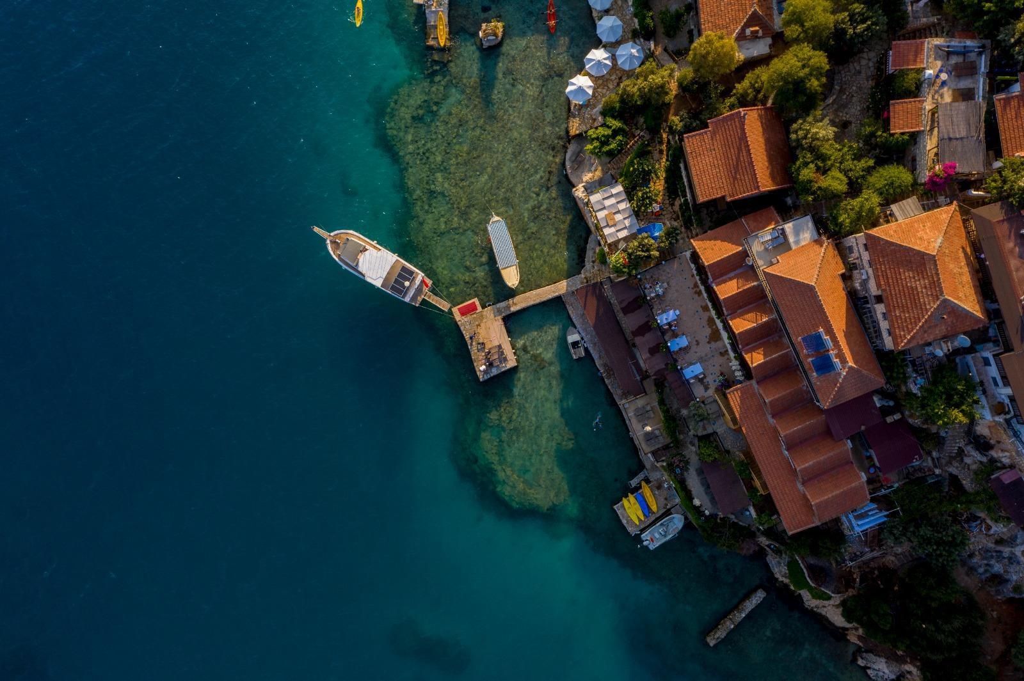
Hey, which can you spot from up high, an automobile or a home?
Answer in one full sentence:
The image shows a home.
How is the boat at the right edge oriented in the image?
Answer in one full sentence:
I'd say the boat at the right edge is aligned from side to side in the picture.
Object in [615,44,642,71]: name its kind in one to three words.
umbrella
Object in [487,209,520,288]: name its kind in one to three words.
boat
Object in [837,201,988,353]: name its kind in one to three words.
house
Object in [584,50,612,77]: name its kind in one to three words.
umbrella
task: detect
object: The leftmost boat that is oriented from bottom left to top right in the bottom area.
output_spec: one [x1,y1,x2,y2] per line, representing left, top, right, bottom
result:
[641,514,687,553]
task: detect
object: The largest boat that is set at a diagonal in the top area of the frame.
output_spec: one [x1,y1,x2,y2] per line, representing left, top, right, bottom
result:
[311,226,432,306]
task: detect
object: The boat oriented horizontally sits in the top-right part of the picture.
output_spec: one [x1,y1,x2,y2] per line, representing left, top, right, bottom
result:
[938,44,990,65]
